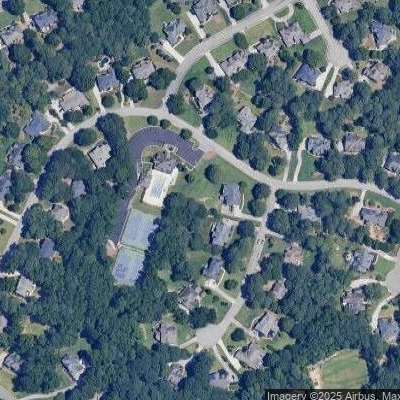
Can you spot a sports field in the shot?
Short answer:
Yes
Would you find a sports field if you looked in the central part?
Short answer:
No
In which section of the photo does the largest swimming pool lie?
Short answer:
center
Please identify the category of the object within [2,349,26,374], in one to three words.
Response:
house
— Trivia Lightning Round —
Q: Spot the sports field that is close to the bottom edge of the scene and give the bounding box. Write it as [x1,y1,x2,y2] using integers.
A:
[310,350,369,398]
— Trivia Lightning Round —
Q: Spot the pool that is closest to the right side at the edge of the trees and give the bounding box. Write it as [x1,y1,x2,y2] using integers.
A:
[143,168,179,206]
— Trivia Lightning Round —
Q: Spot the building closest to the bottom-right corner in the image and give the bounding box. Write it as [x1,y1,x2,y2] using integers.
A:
[377,315,400,342]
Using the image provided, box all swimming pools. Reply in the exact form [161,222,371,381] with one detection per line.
[143,168,179,206]
[100,56,110,69]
